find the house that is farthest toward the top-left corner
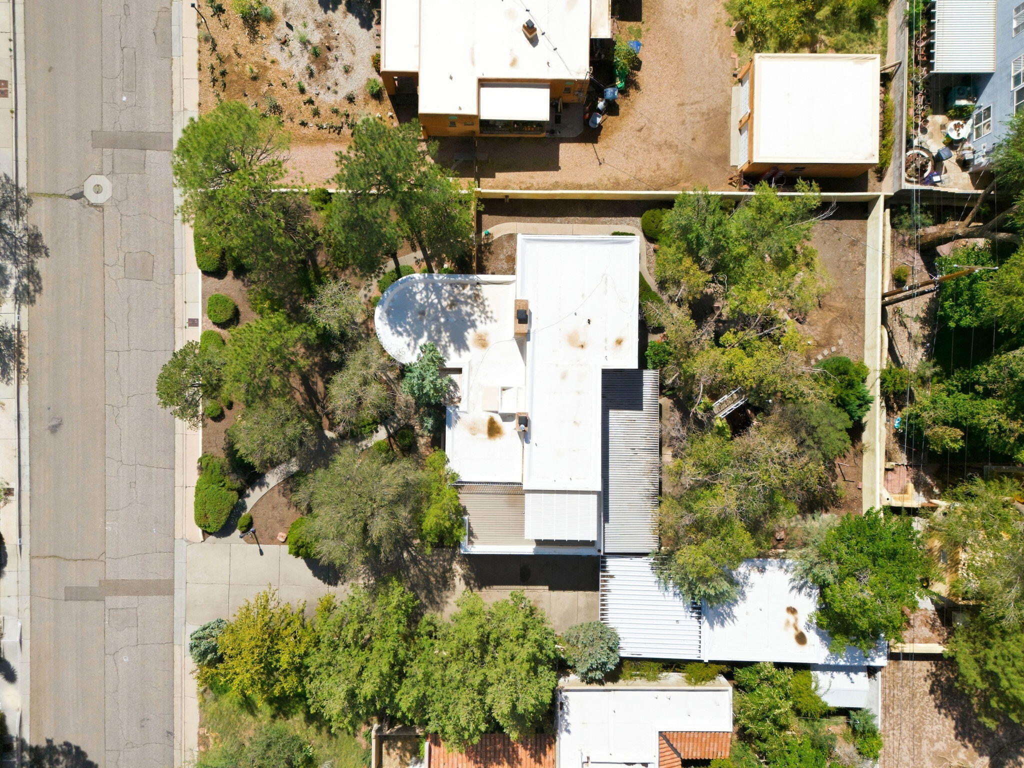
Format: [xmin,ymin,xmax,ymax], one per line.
[381,0,611,141]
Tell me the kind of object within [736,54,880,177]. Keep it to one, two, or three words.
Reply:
building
